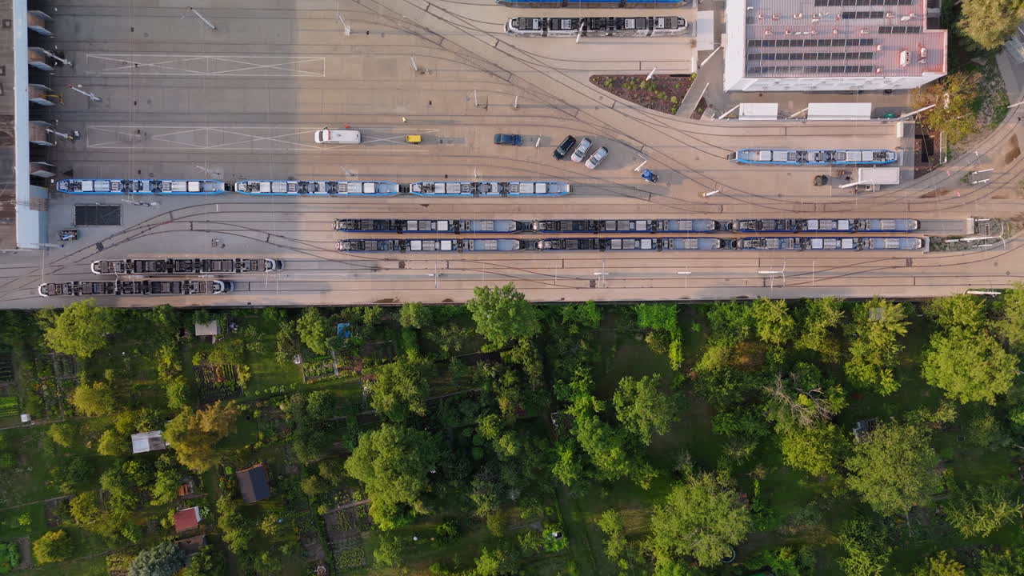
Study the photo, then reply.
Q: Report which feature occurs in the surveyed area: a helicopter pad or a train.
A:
train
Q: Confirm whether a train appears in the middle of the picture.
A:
Yes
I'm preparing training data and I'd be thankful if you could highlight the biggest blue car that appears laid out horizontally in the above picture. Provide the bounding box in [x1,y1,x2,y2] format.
[494,133,521,146]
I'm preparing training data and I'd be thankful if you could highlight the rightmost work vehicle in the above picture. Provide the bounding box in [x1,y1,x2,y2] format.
[641,168,659,184]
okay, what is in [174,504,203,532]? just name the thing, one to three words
shed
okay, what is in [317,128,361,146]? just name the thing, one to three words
vehicle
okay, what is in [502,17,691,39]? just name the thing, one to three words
train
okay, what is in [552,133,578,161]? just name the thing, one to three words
car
